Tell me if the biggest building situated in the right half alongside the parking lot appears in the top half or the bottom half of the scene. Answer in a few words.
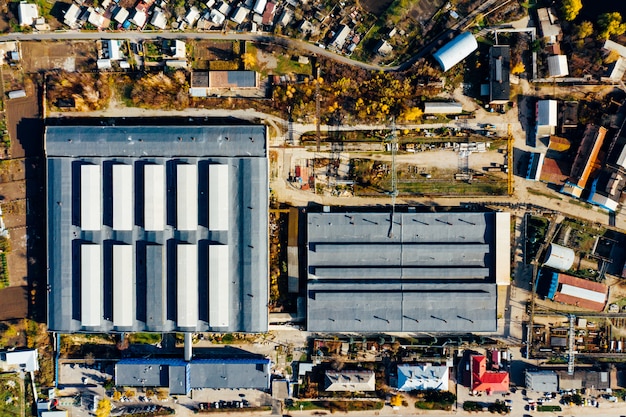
bottom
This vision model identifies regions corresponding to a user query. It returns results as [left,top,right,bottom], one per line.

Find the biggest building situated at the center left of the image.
[46,124,270,333]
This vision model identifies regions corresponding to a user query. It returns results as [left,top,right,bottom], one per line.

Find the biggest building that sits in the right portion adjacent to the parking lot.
[307,212,510,332]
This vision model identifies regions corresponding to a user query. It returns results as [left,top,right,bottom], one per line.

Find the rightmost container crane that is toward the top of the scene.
[493,123,513,197]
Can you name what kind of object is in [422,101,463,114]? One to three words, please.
building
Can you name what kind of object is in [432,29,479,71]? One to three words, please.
hangar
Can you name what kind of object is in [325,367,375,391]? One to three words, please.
house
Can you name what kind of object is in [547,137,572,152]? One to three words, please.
shed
